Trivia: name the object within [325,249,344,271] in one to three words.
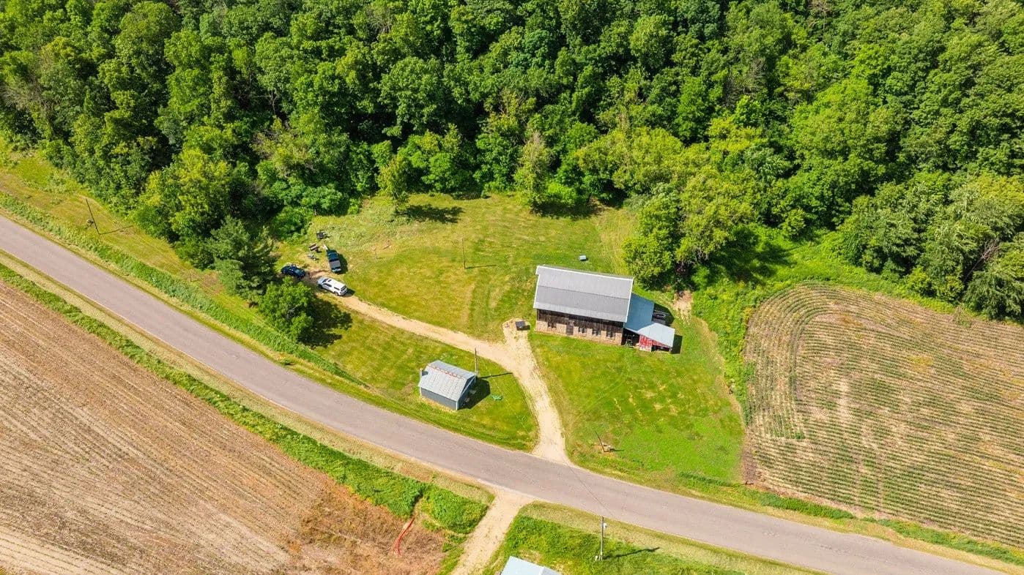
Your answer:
vehicle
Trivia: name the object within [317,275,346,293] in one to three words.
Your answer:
car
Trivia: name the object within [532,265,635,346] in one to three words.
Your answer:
barn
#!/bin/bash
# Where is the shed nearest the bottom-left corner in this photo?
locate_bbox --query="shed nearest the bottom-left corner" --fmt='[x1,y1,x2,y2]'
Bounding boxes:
[416,362,474,410]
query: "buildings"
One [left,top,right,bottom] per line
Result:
[503,557,561,575]
[416,362,474,410]
[532,265,635,346]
